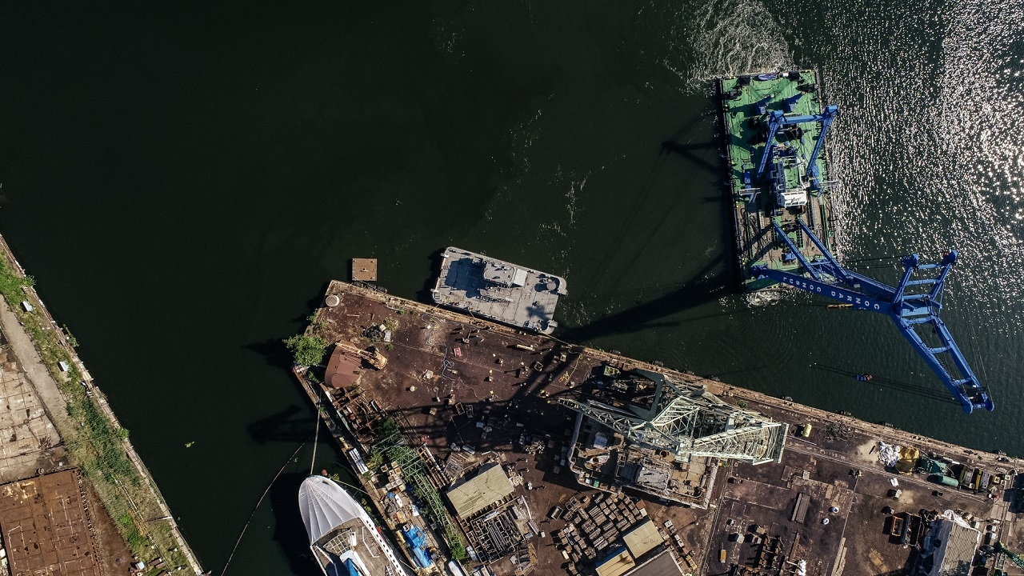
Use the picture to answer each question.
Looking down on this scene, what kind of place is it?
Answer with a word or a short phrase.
port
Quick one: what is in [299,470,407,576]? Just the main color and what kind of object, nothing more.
white boat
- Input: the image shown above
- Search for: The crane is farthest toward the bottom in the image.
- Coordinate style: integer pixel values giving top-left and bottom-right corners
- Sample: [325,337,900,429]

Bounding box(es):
[991,541,1024,570]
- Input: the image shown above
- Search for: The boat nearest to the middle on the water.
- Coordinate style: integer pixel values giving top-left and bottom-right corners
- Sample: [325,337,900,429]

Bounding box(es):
[431,246,566,332]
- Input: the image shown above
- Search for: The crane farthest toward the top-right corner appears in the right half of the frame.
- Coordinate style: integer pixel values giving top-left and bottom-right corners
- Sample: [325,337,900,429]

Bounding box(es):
[720,67,997,417]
